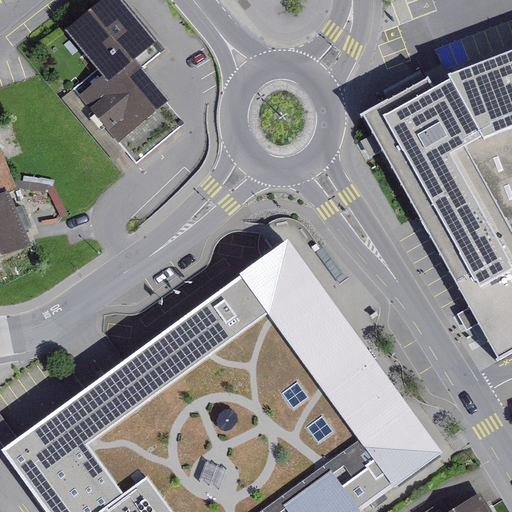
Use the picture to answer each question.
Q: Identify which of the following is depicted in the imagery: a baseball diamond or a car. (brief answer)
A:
car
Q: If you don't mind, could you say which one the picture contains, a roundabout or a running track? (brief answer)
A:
roundabout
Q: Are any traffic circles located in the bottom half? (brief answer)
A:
No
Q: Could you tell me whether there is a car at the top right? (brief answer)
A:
No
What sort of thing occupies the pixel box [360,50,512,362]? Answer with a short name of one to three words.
building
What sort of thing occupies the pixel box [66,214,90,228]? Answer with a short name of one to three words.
vehicle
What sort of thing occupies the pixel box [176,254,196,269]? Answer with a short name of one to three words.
car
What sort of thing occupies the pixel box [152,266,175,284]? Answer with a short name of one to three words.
car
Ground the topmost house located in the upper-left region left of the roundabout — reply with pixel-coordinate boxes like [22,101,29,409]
[65,0,184,163]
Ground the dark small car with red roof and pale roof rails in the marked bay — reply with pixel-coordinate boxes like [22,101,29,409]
[186,50,206,66]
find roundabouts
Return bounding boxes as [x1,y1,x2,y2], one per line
[220,49,344,187]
